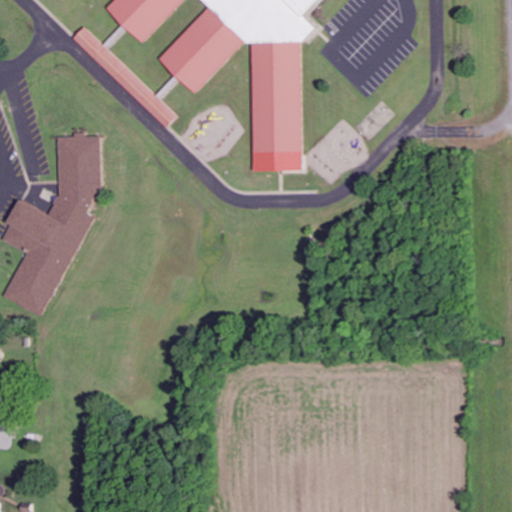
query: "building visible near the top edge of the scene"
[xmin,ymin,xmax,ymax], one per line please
[107,0,317,170]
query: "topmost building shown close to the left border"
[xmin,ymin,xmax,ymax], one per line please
[2,131,101,316]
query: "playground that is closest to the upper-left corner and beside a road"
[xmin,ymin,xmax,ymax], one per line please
[180,104,245,162]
